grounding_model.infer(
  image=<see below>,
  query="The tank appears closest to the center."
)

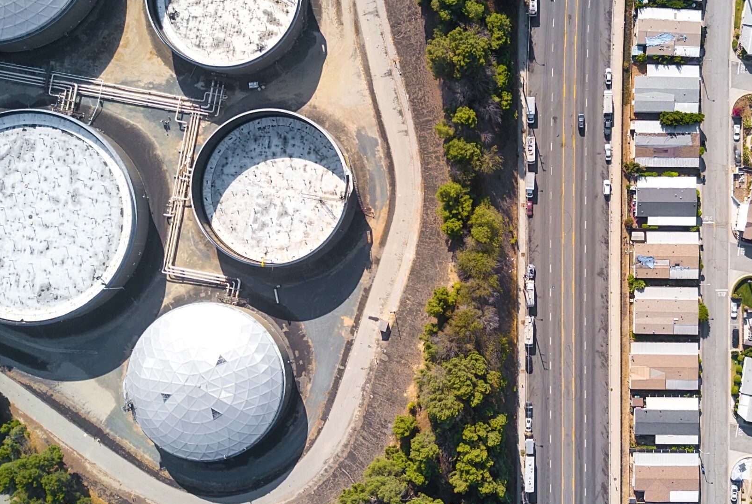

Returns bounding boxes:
[192,109,351,271]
